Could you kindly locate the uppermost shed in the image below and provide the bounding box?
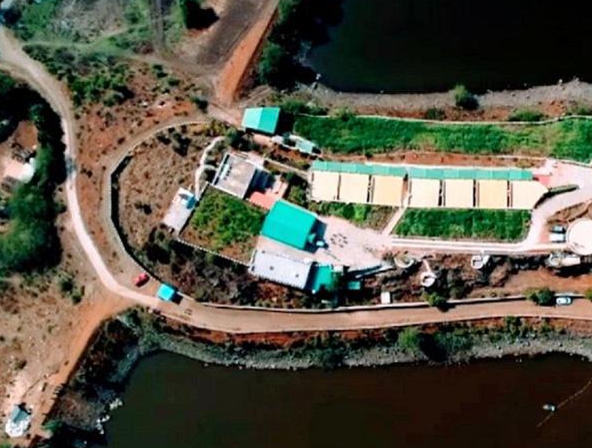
[242,107,283,134]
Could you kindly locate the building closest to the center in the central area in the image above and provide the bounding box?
[261,199,318,250]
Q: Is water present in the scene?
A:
Yes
